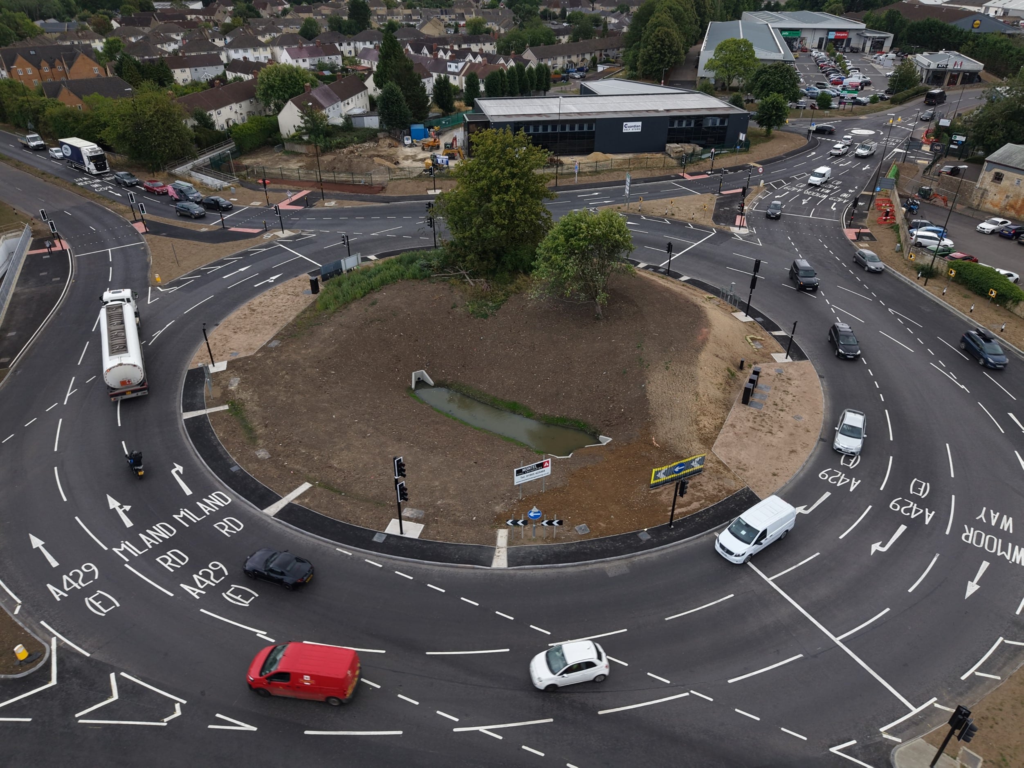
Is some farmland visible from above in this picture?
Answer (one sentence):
No, there is no farmland in the image.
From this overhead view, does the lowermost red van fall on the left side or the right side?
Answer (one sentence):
The lowermost red van is on the left side of the image.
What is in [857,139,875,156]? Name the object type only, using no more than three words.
vehicle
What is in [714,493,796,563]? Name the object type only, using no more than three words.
van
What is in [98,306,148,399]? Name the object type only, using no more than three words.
truck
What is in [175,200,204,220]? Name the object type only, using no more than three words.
car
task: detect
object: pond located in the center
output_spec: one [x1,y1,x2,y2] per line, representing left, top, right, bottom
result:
[415,387,599,456]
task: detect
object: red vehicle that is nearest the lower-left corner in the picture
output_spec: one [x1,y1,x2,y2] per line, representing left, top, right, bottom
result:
[248,642,366,707]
